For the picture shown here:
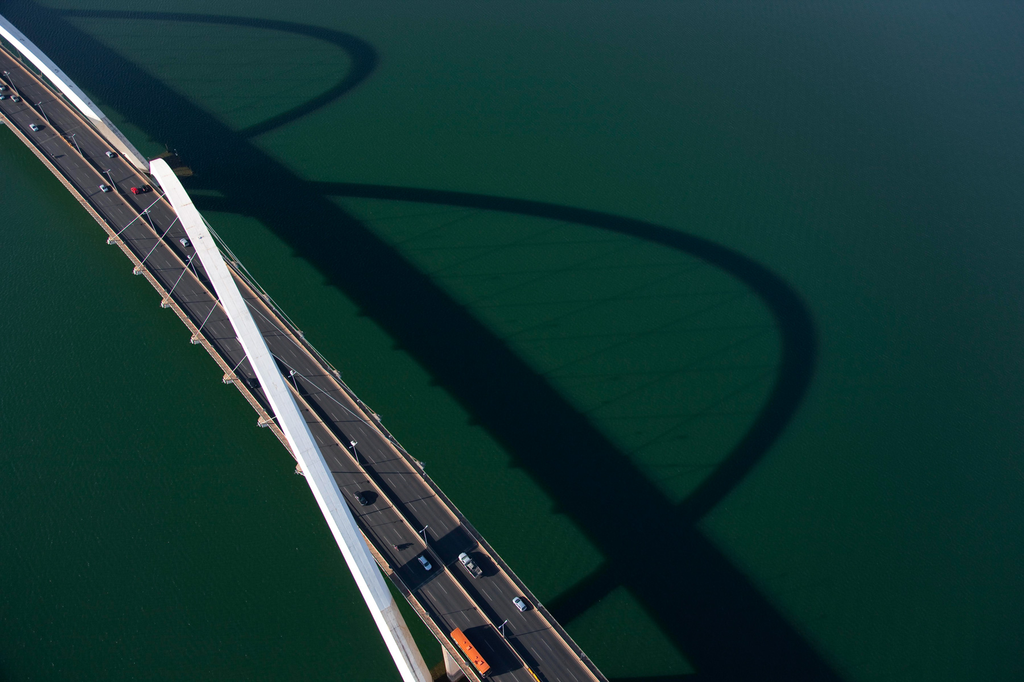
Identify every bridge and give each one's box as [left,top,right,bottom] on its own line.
[0,15,610,682]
